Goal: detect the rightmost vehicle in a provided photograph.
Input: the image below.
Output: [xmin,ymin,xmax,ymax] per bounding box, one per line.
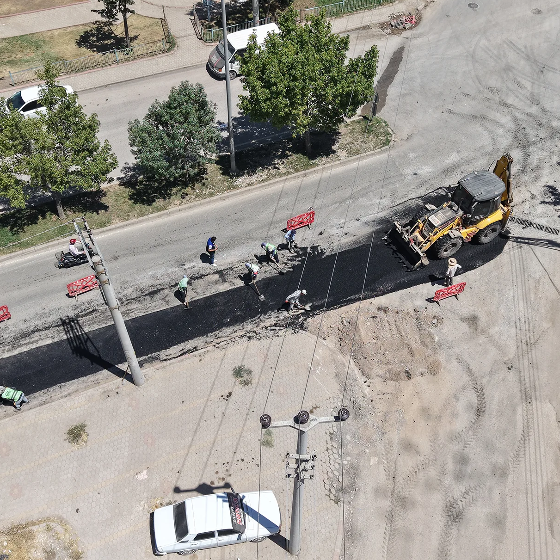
[384,156,524,270]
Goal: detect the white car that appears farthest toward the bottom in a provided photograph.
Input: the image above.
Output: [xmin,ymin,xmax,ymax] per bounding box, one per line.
[151,479,290,555]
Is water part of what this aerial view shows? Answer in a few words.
No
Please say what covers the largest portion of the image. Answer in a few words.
paved ground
